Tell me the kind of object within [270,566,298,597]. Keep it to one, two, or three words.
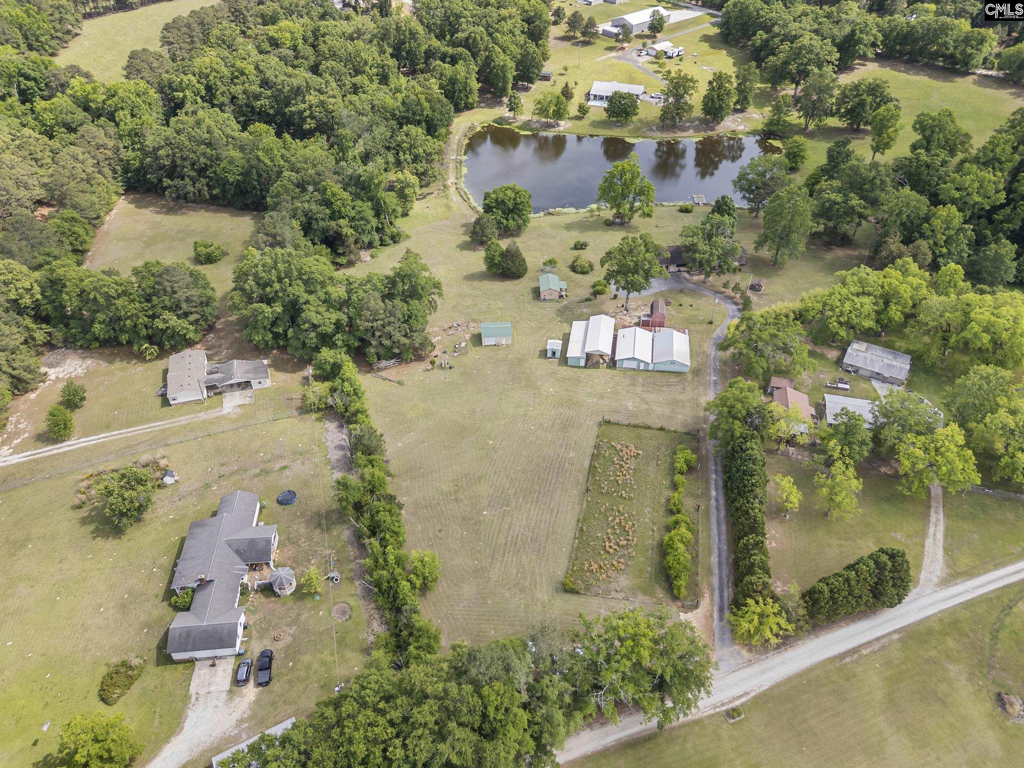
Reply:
gazebo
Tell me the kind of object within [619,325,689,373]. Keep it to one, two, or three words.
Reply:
barn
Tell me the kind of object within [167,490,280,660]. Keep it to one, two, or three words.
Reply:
house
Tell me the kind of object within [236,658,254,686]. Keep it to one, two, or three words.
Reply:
car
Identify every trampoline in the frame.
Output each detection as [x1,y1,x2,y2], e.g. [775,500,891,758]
[277,488,296,504]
